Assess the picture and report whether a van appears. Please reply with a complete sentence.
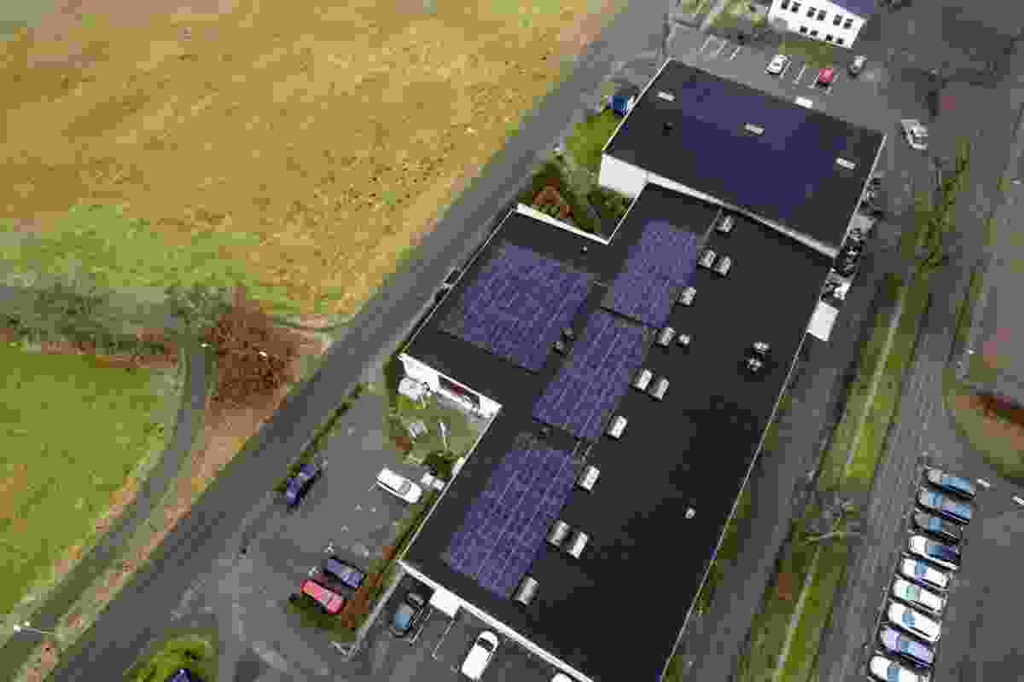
Yes, a van appears in the view.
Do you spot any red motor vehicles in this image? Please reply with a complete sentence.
Yes, you can see a red motor vehicle in this photo.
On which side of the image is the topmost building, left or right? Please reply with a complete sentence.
You can find the topmost building on the right side of the picture.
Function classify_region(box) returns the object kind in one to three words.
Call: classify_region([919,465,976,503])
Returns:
car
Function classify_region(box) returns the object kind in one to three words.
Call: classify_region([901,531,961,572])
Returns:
car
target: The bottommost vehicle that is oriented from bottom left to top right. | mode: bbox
[456,627,501,682]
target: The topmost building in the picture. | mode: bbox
[769,0,877,46]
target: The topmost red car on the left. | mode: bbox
[299,575,350,617]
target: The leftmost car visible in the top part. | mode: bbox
[769,53,790,74]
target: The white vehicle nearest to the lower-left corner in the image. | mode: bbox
[372,463,426,505]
